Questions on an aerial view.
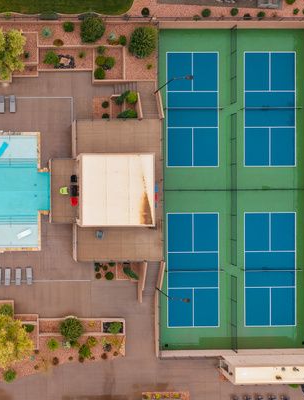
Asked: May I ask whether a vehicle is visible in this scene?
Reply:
No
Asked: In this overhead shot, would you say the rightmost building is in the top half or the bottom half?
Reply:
bottom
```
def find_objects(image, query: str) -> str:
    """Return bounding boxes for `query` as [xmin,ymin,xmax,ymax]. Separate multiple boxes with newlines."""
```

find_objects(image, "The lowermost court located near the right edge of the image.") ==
[243,212,296,327]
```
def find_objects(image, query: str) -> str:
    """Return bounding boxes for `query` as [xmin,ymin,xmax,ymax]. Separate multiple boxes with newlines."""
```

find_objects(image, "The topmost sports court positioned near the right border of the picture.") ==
[243,52,296,167]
